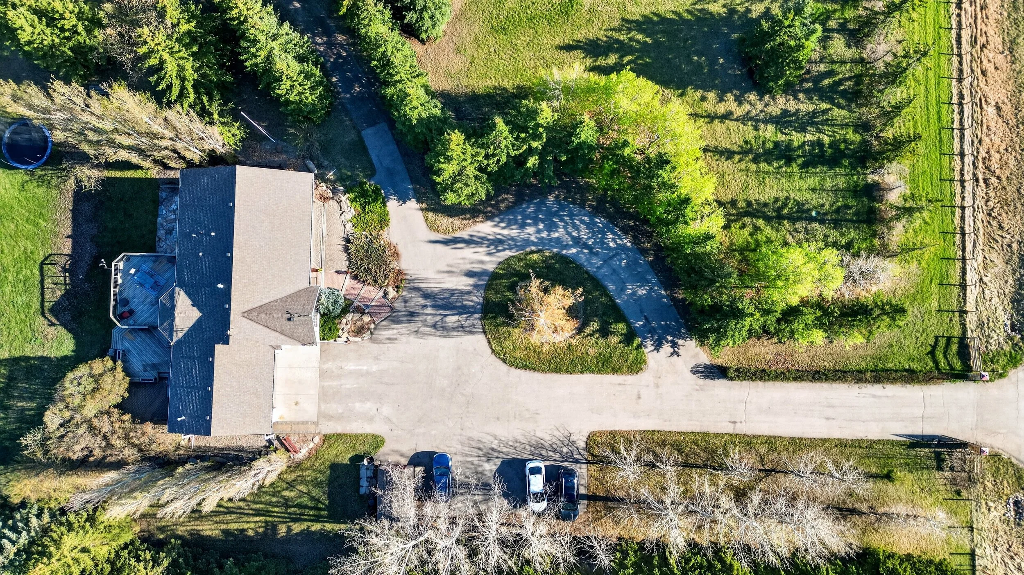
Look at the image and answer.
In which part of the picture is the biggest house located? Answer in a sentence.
The biggest house is located in the left region of the scene.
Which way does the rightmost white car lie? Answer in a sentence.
Seen from above, the rightmost white car lies up and down.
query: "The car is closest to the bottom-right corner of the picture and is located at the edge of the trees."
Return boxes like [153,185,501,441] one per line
[559,467,583,520]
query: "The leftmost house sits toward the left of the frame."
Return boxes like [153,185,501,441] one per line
[157,165,325,437]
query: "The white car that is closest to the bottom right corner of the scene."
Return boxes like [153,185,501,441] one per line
[525,460,548,512]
